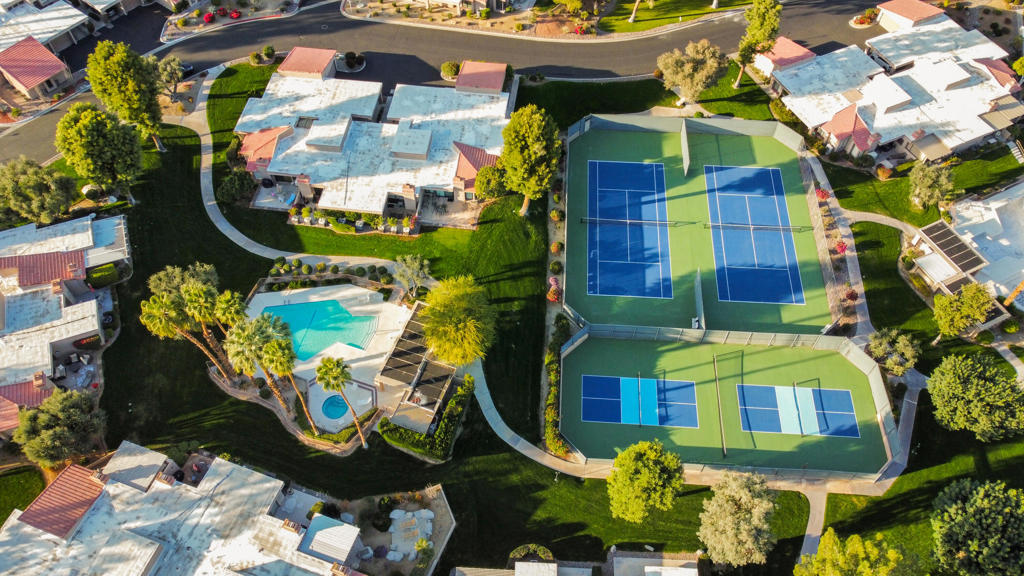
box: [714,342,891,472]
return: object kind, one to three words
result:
sports court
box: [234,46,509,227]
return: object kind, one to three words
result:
house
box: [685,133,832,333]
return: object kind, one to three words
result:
tennis court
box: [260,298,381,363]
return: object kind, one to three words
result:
swimming pool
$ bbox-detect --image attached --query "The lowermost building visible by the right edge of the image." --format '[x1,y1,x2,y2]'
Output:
[912,178,1024,339]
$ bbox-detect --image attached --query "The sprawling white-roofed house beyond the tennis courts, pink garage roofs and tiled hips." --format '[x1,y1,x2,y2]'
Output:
[747,0,1024,176]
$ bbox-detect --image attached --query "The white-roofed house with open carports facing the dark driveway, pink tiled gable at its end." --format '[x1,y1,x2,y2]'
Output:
[0,0,92,106]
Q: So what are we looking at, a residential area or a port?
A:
residential area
